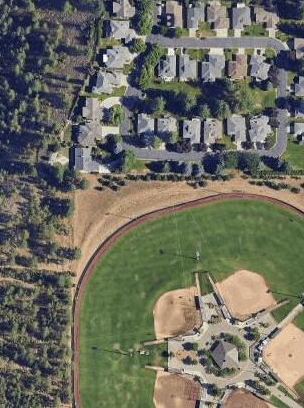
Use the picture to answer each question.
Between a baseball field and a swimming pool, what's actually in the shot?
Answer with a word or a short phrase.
baseball field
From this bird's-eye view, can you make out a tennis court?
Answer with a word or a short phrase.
No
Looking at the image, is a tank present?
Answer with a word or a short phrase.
No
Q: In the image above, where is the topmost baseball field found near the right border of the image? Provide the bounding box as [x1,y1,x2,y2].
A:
[202,193,304,326]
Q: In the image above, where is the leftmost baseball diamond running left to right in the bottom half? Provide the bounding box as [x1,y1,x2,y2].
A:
[74,357,201,408]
